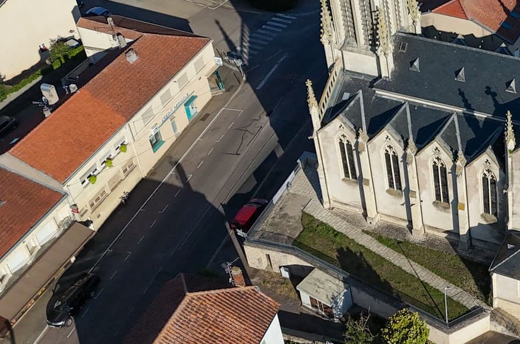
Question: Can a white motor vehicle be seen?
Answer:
No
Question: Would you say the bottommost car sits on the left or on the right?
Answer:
left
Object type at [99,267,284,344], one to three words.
house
